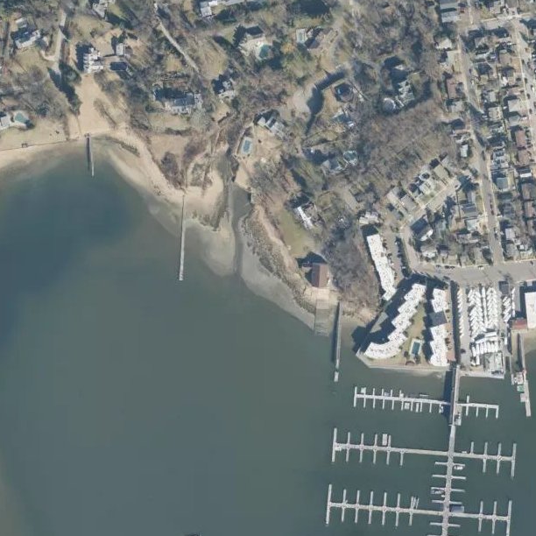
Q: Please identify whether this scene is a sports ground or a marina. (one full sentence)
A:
This image shows a marina.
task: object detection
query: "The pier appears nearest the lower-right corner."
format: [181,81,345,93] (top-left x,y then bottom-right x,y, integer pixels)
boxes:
[450,500,511,536]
